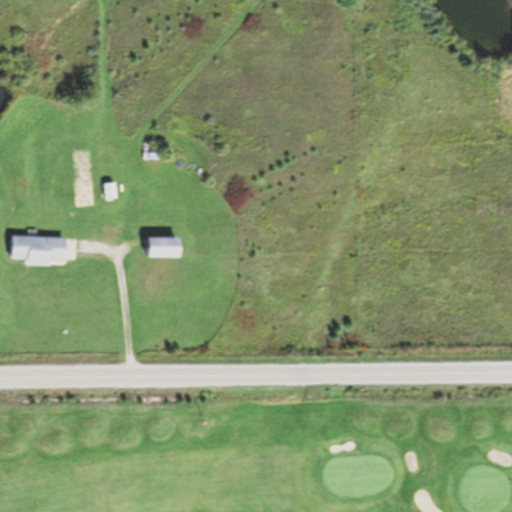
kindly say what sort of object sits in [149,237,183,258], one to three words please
barn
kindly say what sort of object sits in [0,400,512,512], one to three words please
golf course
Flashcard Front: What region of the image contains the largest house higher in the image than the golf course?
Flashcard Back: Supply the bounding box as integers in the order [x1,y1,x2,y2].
[12,230,68,266]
